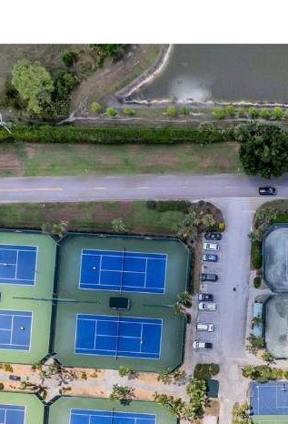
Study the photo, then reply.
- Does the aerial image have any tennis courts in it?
Yes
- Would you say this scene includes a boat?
No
